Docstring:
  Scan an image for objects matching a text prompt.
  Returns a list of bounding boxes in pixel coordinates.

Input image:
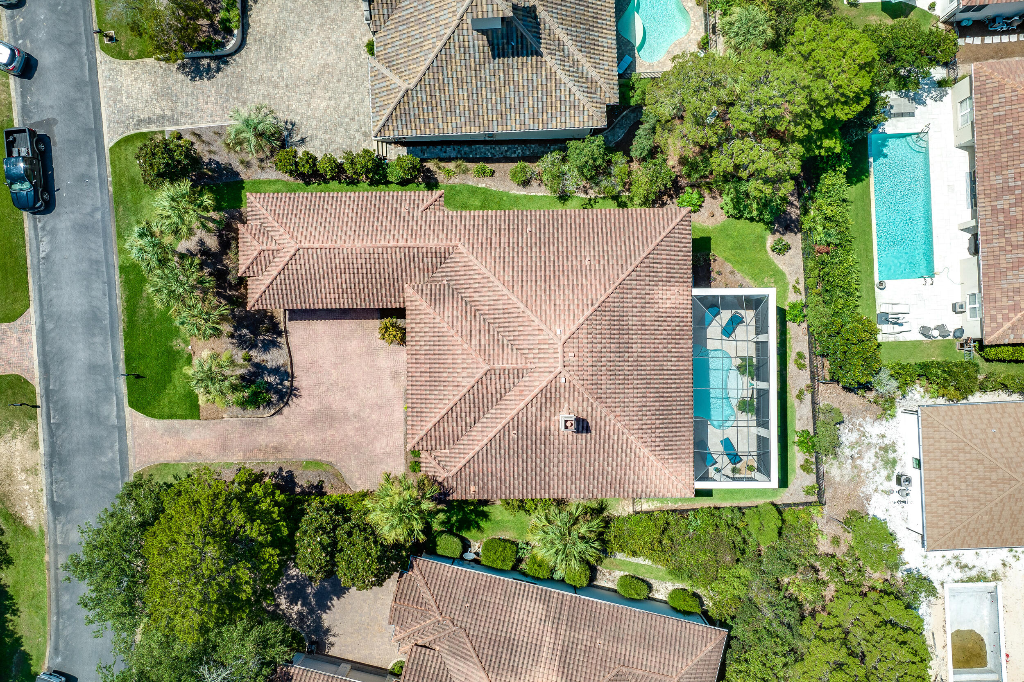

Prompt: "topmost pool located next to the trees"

[619,0,691,60]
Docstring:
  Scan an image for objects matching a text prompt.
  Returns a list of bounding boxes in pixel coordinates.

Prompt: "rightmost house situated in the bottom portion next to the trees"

[901,397,1024,554]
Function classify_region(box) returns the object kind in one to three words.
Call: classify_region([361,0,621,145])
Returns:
house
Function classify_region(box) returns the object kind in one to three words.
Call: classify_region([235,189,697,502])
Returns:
house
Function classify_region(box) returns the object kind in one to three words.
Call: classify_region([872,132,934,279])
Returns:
swimming pool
